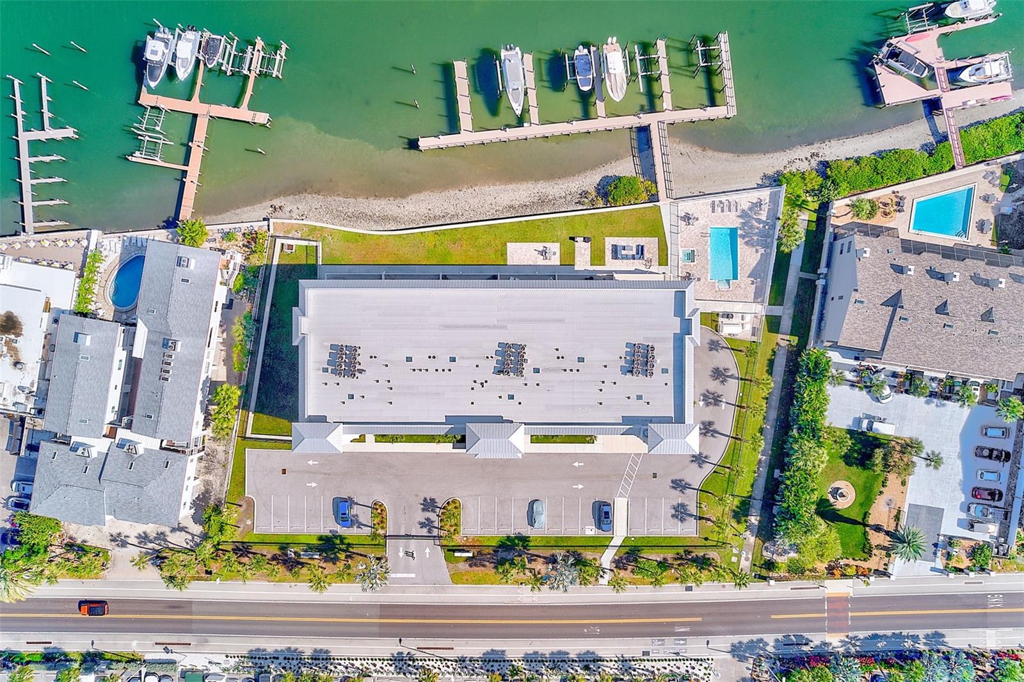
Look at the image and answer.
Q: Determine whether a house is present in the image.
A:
Yes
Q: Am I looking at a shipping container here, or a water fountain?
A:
water fountain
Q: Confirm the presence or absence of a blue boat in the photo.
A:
Yes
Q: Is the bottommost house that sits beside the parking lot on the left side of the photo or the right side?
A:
left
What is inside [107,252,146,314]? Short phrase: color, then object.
blue swimming pool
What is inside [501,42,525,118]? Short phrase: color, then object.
white boat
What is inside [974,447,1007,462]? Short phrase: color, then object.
black car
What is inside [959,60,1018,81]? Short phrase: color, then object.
white boat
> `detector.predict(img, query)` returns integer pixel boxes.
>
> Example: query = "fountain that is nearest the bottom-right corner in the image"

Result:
[828,480,855,507]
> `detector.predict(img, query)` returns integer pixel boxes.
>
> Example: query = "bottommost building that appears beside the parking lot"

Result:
[30,427,205,528]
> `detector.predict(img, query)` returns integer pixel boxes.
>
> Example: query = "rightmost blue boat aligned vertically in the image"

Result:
[574,42,592,91]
